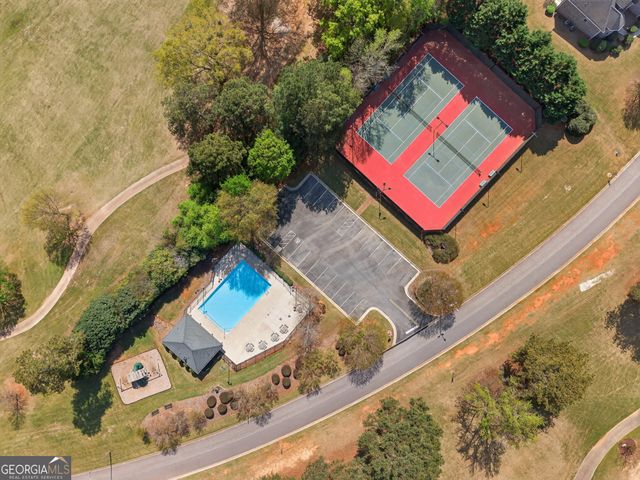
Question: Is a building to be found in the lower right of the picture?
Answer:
No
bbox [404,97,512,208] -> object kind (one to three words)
tennis court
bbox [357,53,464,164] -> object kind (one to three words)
tennis court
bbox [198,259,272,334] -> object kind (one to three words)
swimming pool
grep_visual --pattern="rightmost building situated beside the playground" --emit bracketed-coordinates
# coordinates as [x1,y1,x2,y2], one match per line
[162,314,223,376]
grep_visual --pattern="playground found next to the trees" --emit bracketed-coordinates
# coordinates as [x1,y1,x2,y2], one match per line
[111,349,171,405]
